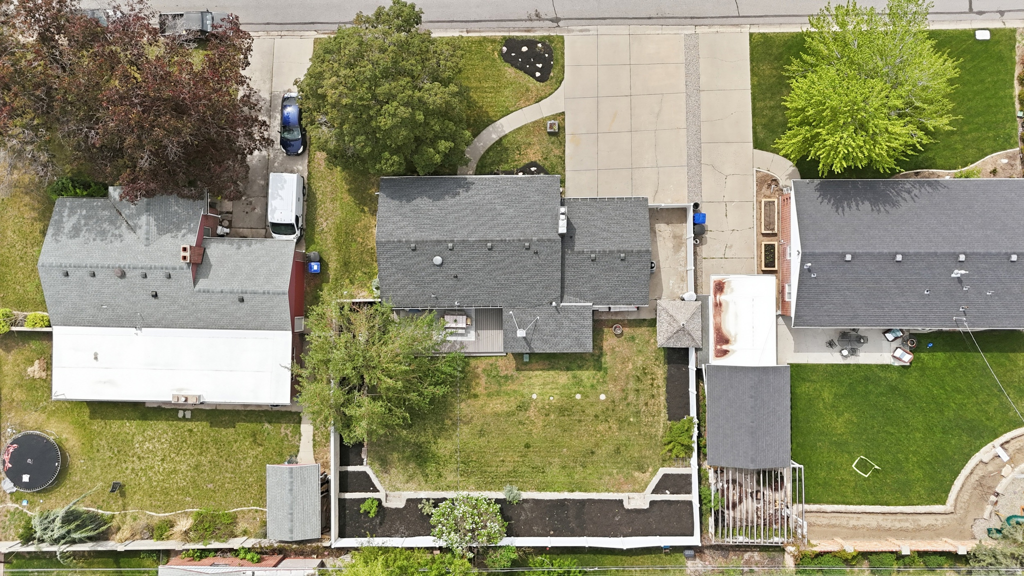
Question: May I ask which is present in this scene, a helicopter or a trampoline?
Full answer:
Visible in the photo is a trampoline.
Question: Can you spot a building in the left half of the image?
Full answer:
Yes, I can see a building in the left half of the image.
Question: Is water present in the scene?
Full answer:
No, there is no water in the image.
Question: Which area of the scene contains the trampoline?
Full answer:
The trampoline appears toward the bottom left of the photo.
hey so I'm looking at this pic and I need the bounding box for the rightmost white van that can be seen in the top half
[270,173,308,245]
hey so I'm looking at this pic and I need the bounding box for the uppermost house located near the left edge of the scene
[37,187,305,405]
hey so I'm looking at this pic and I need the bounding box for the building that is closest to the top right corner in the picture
[776,178,1024,329]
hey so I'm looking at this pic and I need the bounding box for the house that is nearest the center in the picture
[376,172,652,353]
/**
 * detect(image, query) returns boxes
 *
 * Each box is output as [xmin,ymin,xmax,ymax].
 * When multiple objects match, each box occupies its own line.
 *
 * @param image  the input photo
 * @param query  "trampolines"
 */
[3,428,71,492]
